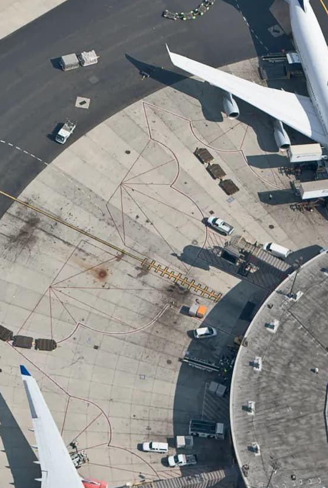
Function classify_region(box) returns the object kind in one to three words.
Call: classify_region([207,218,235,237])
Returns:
vehicle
